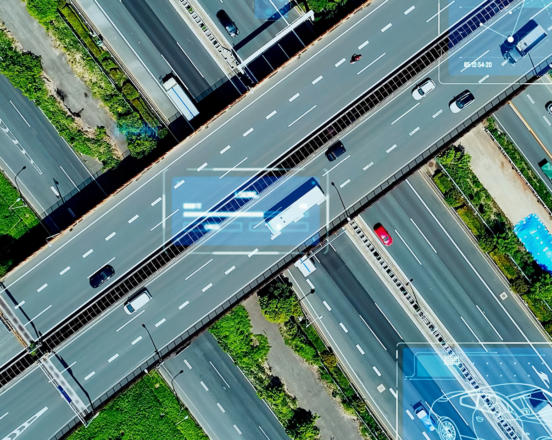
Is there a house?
No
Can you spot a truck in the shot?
Yes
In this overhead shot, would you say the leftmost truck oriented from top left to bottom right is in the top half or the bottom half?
top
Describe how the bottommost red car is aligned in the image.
diagonally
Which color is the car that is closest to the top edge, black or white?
black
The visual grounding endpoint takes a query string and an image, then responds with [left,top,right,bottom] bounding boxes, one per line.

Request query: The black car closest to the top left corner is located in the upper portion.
[217,10,239,36]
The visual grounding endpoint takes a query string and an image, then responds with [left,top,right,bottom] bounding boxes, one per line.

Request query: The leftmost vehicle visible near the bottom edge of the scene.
[408,398,437,432]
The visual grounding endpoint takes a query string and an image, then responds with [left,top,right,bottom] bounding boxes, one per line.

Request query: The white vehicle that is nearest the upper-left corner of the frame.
[162,73,205,122]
